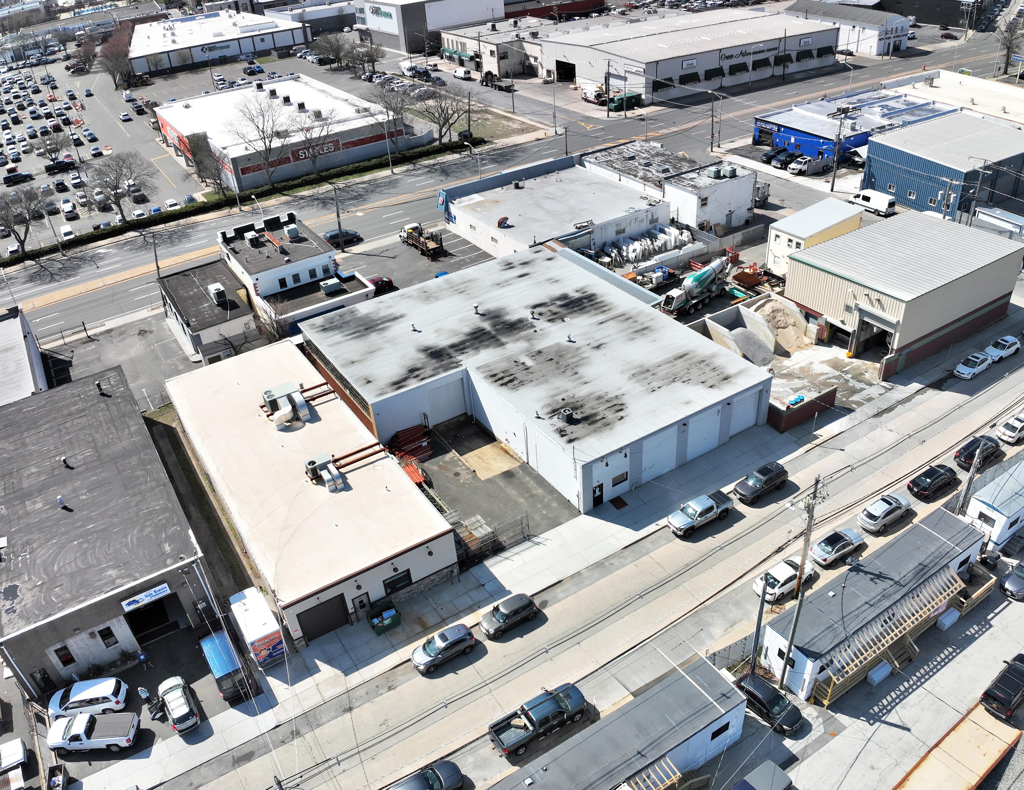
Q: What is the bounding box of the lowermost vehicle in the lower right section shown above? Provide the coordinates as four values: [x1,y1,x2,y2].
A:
[738,764,798,790]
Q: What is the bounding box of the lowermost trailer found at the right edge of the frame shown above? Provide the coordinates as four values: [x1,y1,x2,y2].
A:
[870,699,1019,790]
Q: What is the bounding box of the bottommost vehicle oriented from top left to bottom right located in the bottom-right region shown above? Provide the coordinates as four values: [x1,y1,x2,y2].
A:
[737,671,819,742]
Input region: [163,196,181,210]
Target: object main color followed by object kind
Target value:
white car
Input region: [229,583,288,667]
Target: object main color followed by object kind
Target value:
white trailer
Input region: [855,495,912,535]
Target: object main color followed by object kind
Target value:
gray car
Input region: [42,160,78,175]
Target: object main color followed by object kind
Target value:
black vehicle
